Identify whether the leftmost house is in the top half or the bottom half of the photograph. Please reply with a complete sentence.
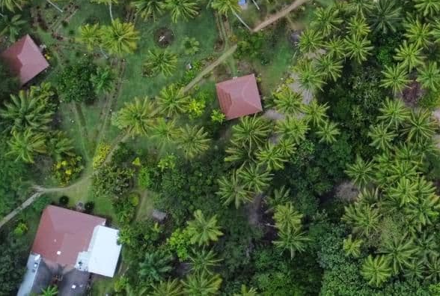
The leftmost house is in the top half of the image.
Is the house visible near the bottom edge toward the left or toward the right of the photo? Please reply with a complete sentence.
The house visible near the bottom edge is on the left side of the image.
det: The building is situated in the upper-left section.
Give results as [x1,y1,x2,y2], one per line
[0,34,55,88]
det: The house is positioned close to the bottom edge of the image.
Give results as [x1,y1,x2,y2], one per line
[19,207,122,296]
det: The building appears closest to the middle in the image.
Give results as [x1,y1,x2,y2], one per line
[216,73,266,123]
